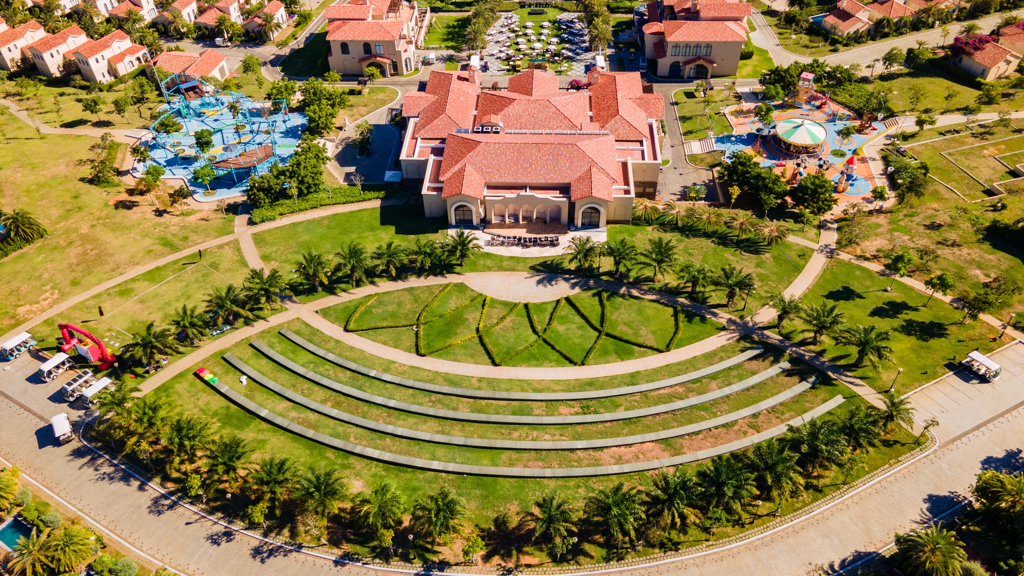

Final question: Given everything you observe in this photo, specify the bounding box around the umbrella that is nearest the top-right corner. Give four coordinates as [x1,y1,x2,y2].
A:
[756,118,777,133]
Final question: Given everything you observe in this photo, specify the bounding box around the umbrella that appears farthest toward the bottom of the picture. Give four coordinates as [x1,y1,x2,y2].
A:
[381,167,401,181]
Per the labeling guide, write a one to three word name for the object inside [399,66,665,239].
building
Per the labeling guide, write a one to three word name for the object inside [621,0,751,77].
house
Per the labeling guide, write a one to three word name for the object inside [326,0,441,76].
house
